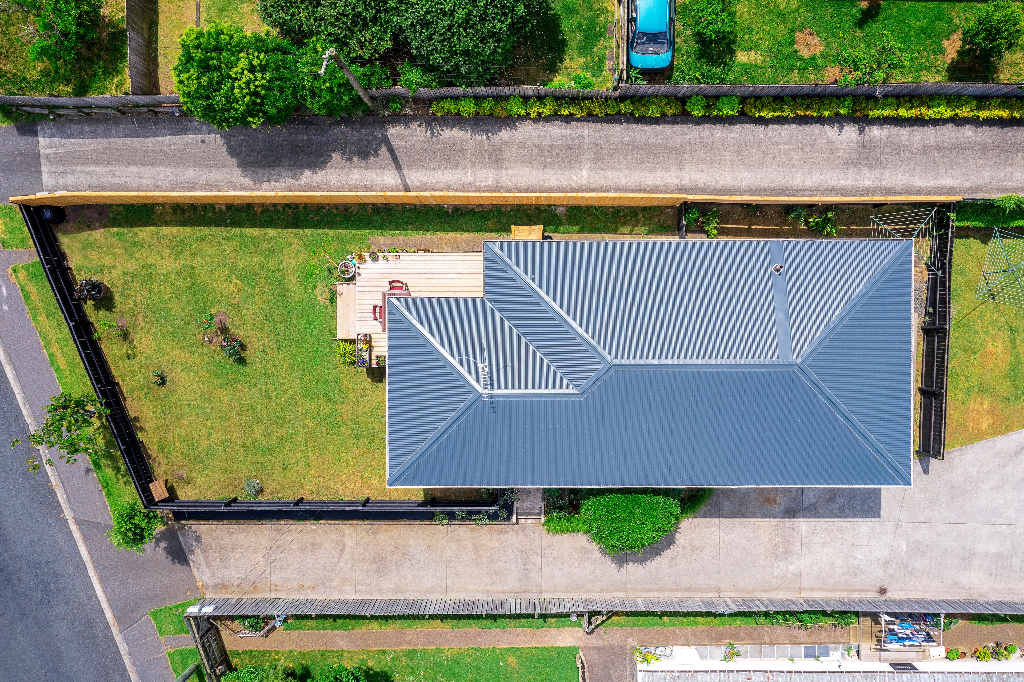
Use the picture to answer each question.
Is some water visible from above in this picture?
No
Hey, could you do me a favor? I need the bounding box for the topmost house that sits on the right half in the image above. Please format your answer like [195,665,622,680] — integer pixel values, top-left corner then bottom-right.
[384,240,912,489]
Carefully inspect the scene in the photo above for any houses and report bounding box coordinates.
[639,658,1024,682]
[384,240,912,489]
